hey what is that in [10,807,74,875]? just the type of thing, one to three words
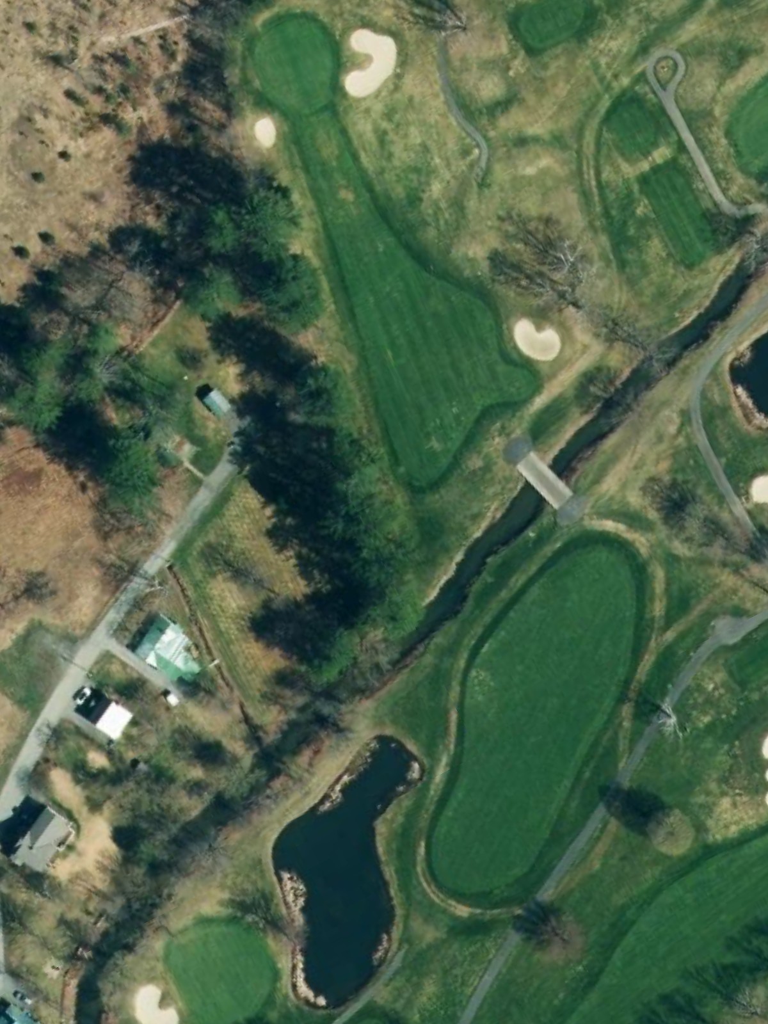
house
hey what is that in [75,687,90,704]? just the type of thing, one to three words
car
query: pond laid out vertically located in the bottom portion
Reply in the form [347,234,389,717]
[273,736,422,1007]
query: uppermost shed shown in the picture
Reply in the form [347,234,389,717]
[203,389,230,418]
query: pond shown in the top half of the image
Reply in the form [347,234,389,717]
[730,333,768,432]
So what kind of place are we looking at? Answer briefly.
golf course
